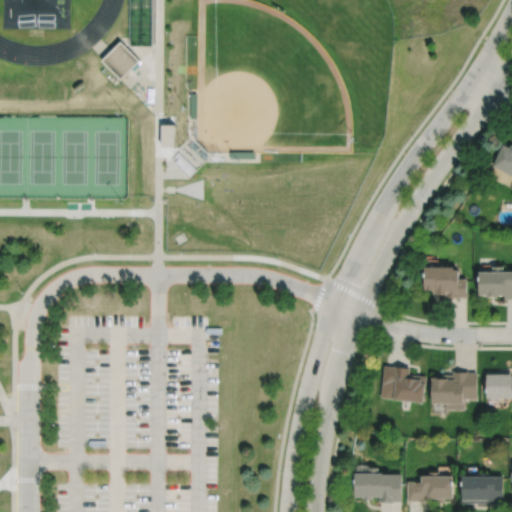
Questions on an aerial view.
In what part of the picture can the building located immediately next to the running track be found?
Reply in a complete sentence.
Look in the top left portion of the view to spot the building located immediately next to the running track.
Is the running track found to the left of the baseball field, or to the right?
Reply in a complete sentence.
From the viewer's perspective, the running track falls to the left of the baseball field.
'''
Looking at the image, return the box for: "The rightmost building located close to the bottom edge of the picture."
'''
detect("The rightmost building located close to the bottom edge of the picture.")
[460,478,504,506]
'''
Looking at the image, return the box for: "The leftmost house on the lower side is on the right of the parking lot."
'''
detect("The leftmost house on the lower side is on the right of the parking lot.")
[353,474,403,503]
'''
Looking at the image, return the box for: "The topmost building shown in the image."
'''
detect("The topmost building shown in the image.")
[102,42,139,80]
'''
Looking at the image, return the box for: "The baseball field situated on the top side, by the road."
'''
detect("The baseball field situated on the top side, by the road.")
[198,0,354,153]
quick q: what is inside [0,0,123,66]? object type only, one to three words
running track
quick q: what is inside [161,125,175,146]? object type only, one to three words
shed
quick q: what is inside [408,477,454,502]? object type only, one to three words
house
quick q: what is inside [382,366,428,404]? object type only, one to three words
house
